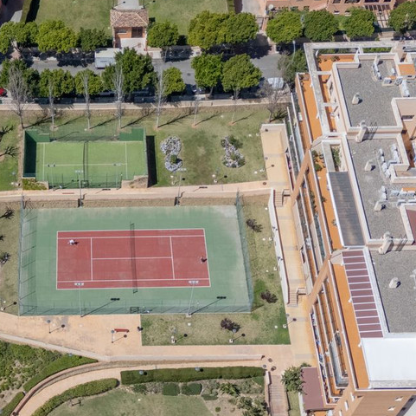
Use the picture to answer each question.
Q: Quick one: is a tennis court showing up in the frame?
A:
Yes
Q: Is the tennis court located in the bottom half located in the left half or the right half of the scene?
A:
left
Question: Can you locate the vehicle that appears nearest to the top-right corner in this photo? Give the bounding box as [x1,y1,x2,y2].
[258,72,293,90]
